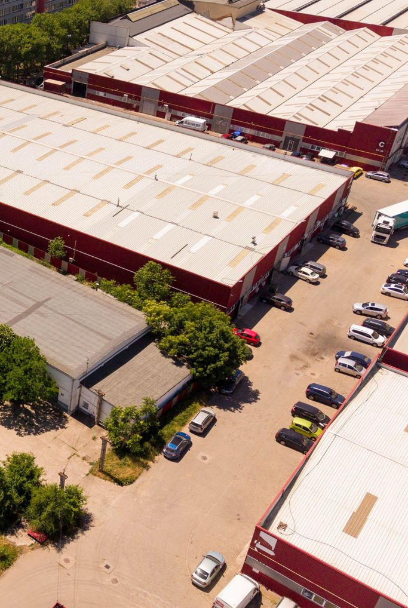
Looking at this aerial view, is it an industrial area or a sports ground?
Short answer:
industrial area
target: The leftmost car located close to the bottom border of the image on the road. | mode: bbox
[191,550,228,588]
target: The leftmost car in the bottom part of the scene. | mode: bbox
[164,430,192,460]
